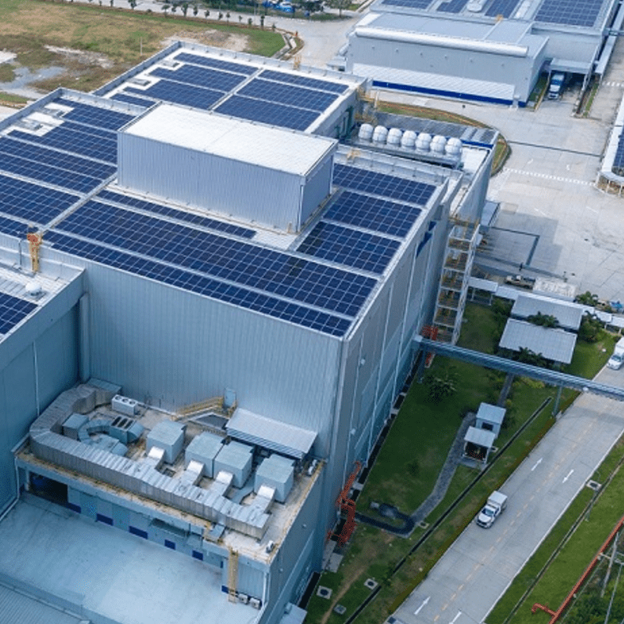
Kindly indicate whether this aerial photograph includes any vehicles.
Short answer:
Yes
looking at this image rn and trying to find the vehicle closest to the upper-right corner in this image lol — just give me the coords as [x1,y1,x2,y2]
[551,69,569,95]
